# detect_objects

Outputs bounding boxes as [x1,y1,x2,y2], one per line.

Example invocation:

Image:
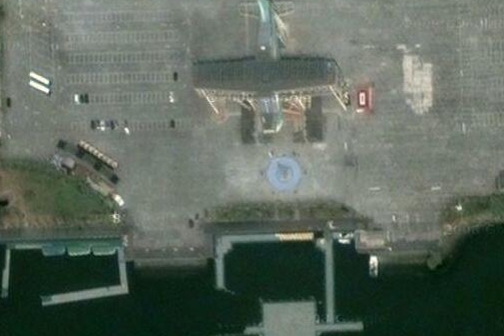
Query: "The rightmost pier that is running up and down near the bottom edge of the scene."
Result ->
[316,229,364,332]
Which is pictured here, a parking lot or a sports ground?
parking lot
